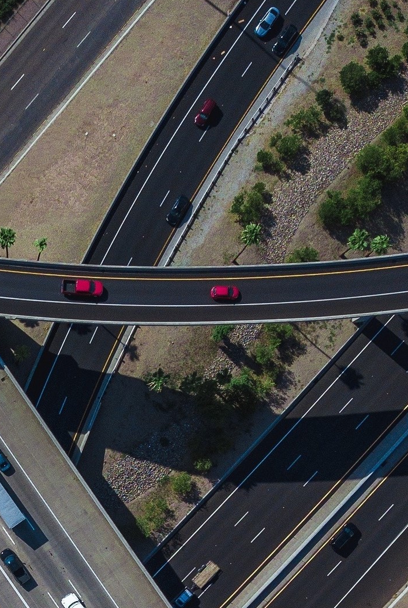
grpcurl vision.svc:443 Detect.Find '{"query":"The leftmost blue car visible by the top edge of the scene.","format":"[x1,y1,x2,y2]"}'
[254,5,281,40]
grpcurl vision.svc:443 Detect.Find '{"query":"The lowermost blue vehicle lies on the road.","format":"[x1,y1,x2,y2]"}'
[171,586,197,608]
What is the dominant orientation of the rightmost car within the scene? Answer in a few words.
at an angle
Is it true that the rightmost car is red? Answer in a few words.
No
